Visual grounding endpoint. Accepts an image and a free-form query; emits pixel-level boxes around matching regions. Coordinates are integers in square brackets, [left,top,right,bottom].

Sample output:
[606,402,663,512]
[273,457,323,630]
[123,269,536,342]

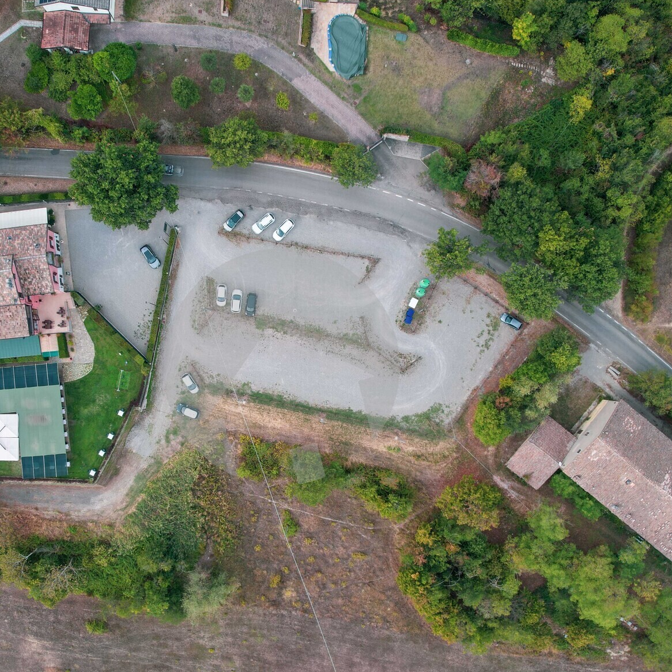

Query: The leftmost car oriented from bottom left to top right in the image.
[224,208,245,232]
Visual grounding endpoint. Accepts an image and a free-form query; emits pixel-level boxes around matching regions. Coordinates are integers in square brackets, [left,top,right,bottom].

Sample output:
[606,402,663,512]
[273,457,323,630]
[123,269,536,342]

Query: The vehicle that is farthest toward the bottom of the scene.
[176,404,201,420]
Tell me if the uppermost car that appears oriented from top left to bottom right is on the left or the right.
left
